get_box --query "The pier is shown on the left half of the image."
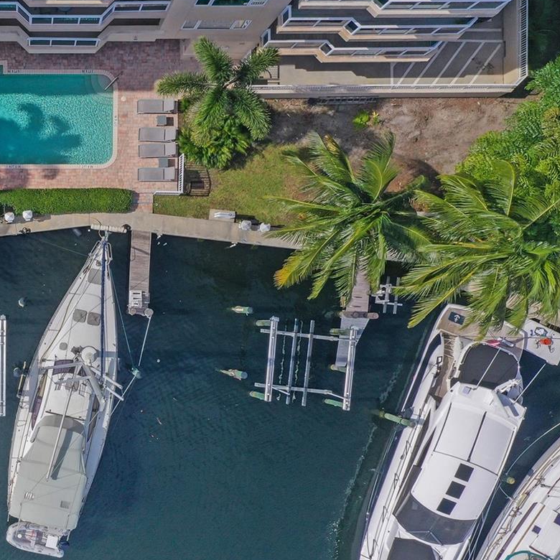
[128,232,152,315]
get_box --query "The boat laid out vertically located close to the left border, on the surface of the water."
[7,227,125,543]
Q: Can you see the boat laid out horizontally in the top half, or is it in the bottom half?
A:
bottom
